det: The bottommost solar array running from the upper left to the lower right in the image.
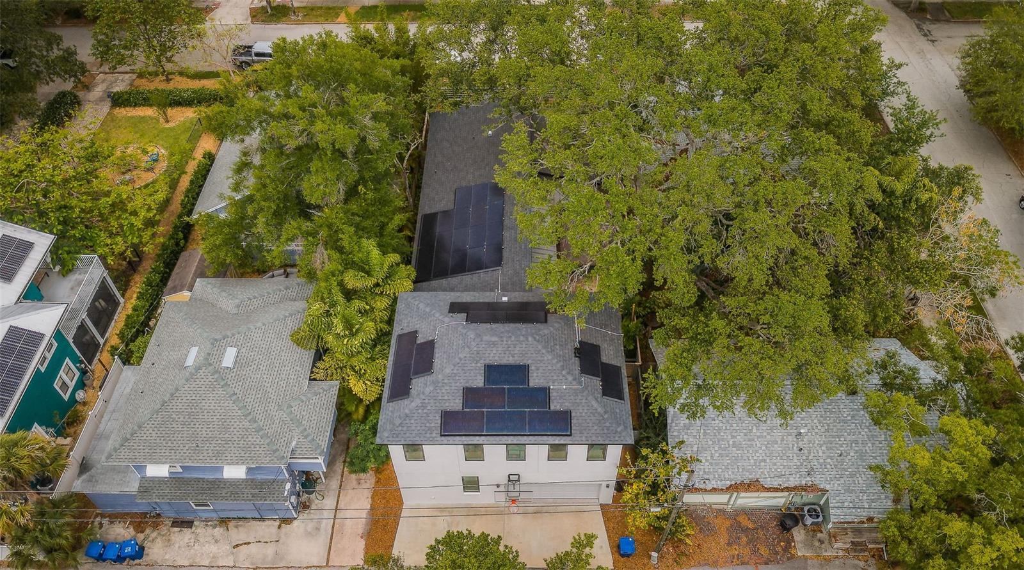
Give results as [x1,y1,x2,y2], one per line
[579,341,623,401]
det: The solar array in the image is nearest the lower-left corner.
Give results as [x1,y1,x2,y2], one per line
[0,326,43,417]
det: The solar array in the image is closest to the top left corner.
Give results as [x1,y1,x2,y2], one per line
[0,234,31,281]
